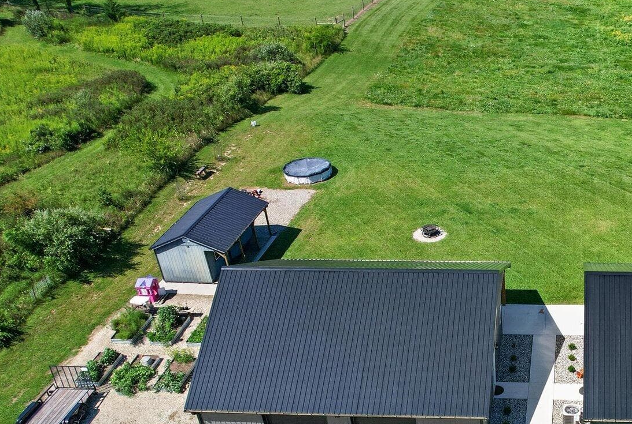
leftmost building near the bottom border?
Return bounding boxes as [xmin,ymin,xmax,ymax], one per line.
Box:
[184,257,512,424]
